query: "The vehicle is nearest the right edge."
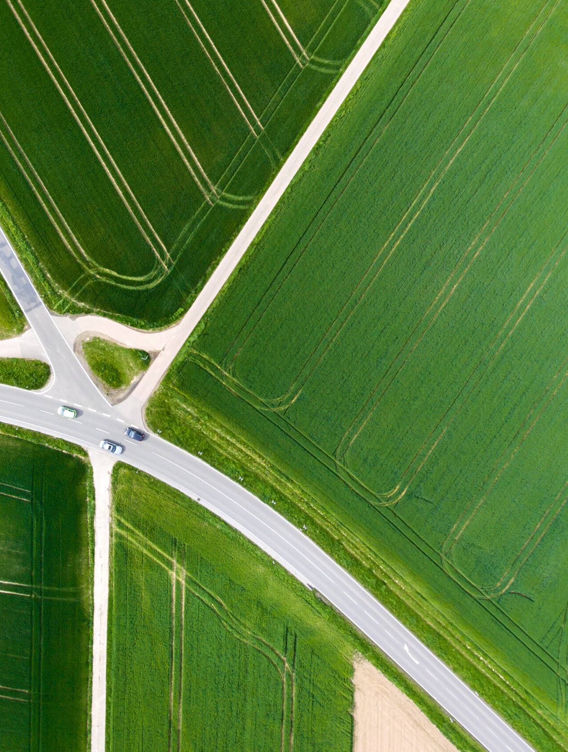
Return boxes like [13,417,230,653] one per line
[124,427,146,443]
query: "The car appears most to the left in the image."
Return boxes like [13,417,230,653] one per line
[57,406,77,419]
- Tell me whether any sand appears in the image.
No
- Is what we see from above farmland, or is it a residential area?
farmland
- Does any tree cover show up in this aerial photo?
No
